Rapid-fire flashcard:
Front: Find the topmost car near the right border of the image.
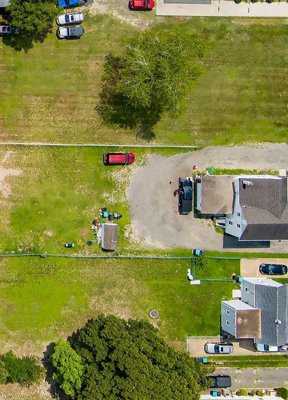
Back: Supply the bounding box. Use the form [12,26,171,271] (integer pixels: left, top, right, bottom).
[261,264,288,277]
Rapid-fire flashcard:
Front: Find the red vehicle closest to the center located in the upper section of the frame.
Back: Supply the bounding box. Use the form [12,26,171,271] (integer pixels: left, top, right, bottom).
[105,152,137,166]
